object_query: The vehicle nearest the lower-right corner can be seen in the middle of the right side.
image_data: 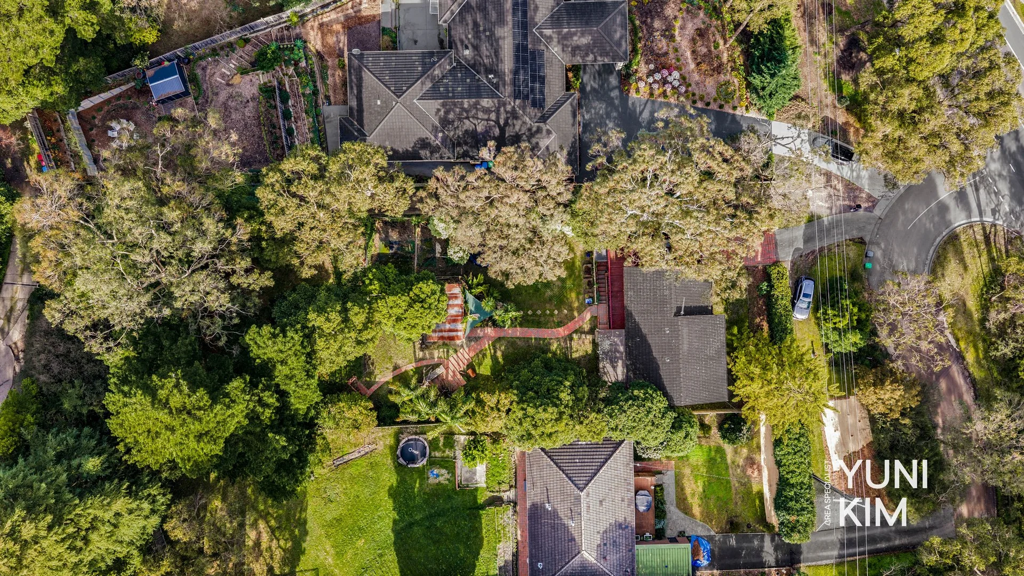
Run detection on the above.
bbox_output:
[789,276,814,320]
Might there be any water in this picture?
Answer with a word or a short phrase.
No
